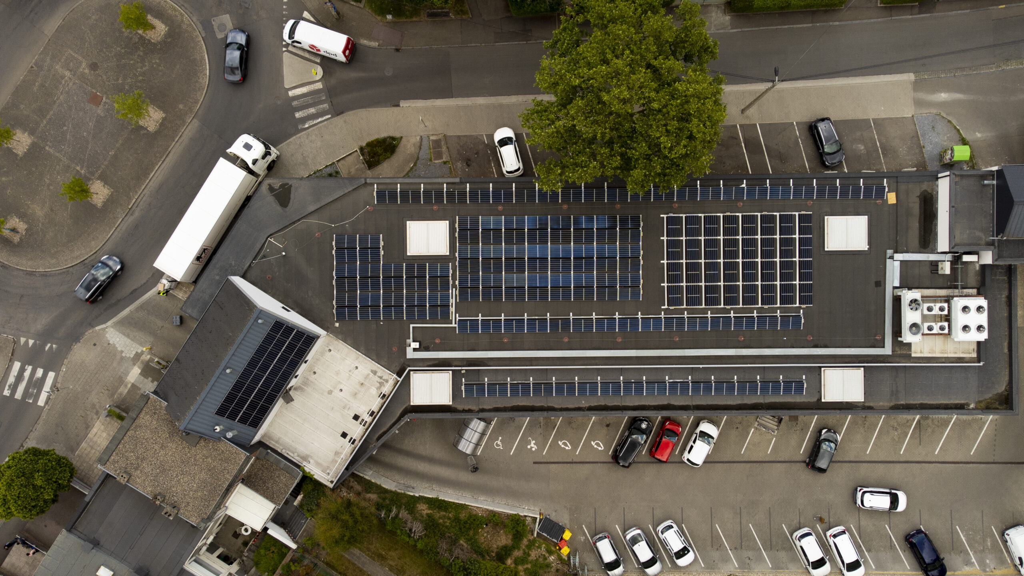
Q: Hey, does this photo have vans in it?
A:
Yes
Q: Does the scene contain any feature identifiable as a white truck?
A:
Yes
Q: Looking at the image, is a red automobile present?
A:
Yes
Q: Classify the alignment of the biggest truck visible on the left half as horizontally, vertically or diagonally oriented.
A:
diagonally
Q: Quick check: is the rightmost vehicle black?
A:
No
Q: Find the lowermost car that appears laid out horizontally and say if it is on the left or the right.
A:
right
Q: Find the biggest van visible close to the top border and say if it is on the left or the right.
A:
left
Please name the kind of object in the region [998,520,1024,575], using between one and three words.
vehicle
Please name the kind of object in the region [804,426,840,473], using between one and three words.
car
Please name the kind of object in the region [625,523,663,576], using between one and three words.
car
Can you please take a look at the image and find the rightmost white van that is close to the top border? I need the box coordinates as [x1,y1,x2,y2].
[284,18,360,65]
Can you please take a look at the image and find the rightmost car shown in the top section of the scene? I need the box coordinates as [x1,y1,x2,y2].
[809,116,846,169]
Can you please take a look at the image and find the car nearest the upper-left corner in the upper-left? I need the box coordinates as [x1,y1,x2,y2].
[223,30,252,85]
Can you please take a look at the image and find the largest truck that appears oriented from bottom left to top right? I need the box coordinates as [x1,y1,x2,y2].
[153,127,284,281]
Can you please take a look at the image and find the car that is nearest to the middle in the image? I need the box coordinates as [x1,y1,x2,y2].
[494,128,523,178]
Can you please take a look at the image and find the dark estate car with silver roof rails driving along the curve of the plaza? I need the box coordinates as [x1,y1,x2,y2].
[76,255,125,305]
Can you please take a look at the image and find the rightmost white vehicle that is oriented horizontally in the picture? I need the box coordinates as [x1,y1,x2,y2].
[851,485,906,514]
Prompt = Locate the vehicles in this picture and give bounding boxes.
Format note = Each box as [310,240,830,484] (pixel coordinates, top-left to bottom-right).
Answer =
[494,128,523,178]
[625,523,663,576]
[809,116,846,169]
[223,30,252,85]
[649,419,682,463]
[825,522,867,576]
[998,520,1024,575]
[792,523,833,576]
[904,526,947,576]
[657,516,695,568]
[681,419,718,468]
[612,418,650,468]
[594,528,630,576]
[284,18,360,65]
[76,255,125,305]
[851,485,906,514]
[804,426,840,473]
[153,127,284,281]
